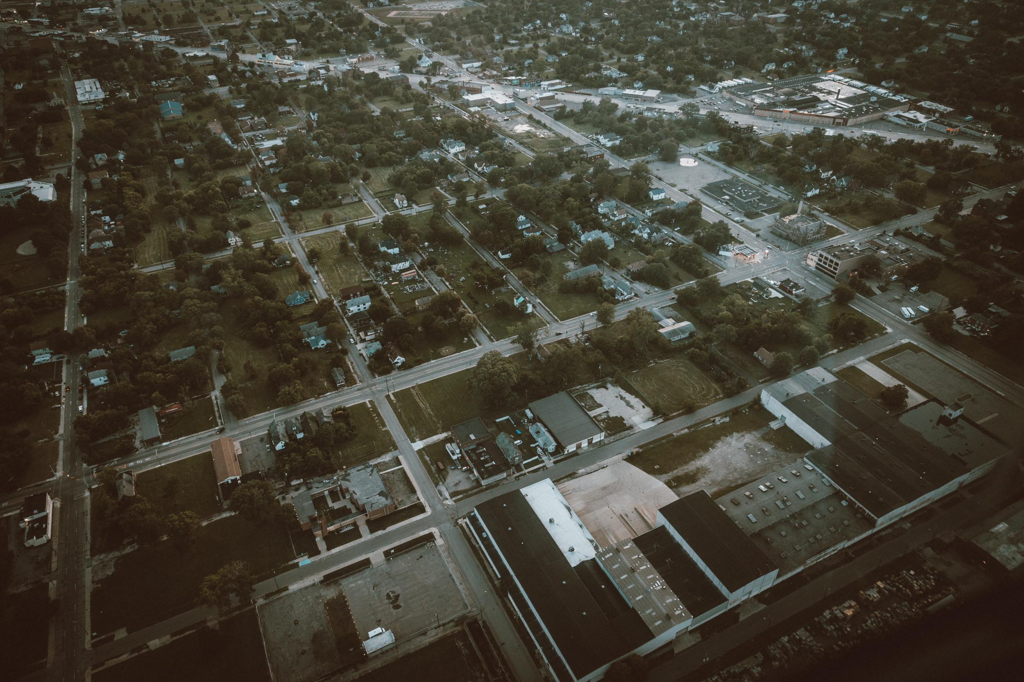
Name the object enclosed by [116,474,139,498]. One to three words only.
house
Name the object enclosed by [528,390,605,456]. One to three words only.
building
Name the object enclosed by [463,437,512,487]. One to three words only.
building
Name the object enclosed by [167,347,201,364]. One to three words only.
house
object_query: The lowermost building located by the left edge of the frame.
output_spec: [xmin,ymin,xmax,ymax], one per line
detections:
[23,513,53,550]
